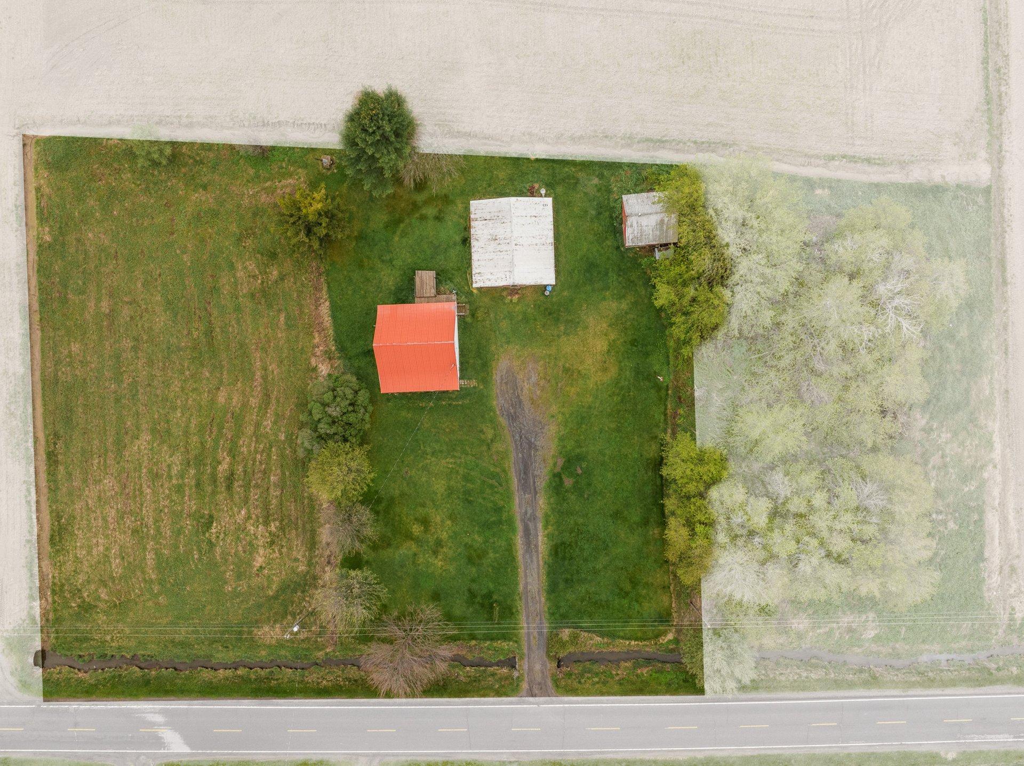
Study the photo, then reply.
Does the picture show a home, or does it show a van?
home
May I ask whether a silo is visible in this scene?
No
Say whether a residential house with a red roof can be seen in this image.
Yes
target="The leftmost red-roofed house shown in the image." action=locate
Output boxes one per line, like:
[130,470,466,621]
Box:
[373,302,460,392]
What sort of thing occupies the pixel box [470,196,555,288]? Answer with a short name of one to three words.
barn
